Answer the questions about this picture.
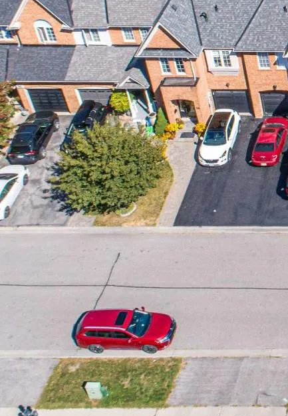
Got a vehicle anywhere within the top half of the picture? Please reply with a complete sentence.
Yes, there is a vehicle within the top half of the picture.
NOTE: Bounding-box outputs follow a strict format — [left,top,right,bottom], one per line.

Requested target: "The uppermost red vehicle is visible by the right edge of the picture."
[250,114,288,165]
